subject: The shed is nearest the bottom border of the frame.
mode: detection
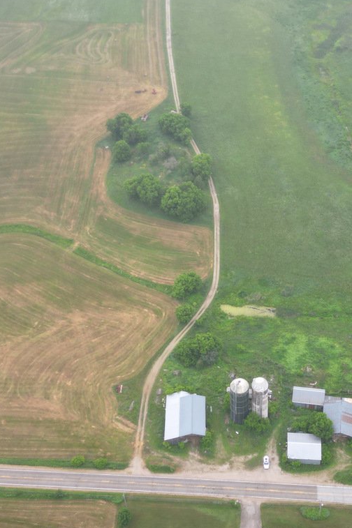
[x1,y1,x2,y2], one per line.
[287,434,321,465]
